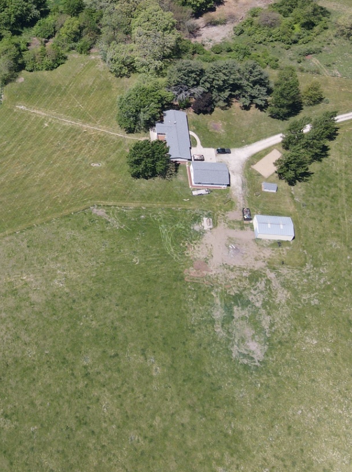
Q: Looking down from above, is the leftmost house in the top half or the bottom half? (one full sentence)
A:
Seen from above, the leftmost house lies in the top half of the view.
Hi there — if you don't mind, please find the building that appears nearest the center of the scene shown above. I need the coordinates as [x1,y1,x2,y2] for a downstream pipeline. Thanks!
[190,161,231,188]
